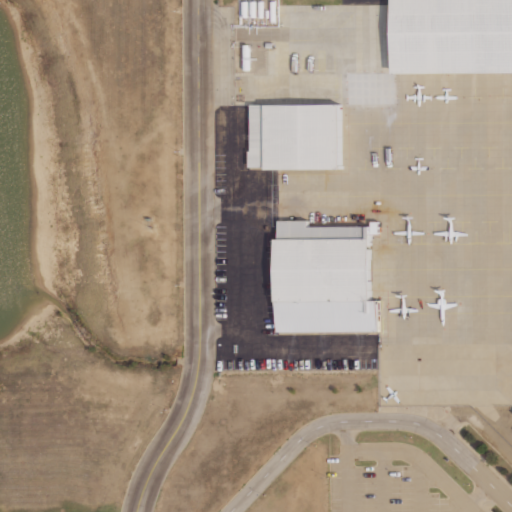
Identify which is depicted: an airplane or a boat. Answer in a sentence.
The image shows an airplane.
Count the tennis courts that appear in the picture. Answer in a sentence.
No tennis courts are visible.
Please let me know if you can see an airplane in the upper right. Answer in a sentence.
Yes, an airplane appears in the upper right.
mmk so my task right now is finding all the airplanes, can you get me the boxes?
[427,292,458,326]
[382,386,400,404]
[392,217,424,246]
[409,158,429,176]
[436,88,458,104]
[388,295,419,320]
[406,85,432,106]
[432,216,468,244]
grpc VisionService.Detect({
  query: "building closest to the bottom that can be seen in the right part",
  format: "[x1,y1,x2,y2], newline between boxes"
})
[271,221,381,333]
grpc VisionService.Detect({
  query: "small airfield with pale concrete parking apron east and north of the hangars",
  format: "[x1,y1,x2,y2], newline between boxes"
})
[212,0,512,426]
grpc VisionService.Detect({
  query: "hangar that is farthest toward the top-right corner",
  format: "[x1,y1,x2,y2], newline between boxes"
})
[387,0,512,73]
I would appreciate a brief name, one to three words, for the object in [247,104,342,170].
hangar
